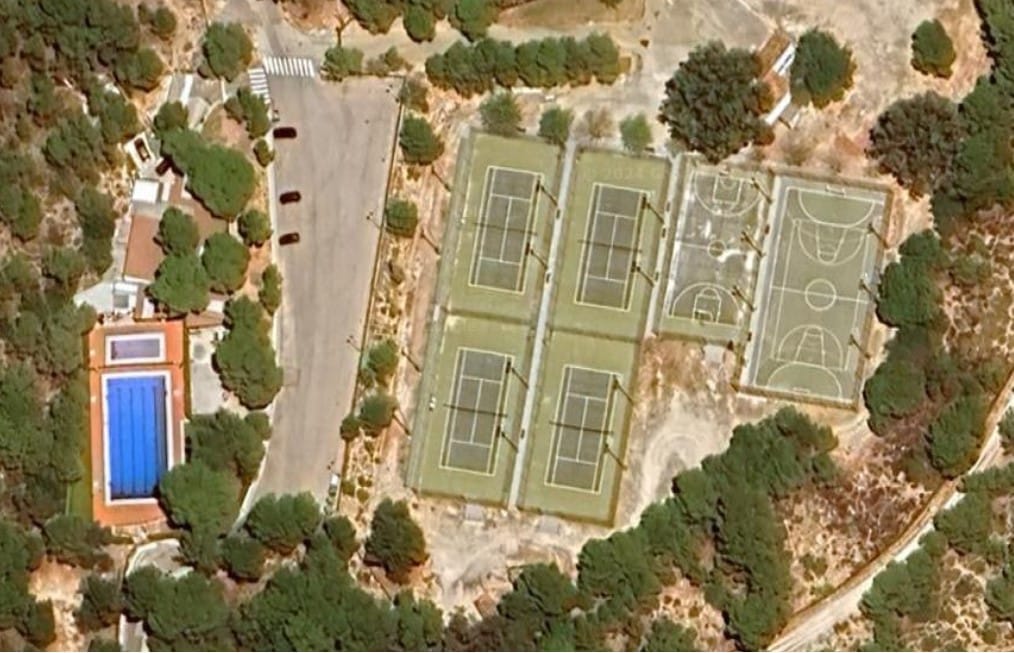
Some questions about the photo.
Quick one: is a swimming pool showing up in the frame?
Yes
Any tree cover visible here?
Yes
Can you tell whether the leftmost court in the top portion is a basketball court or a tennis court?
tennis court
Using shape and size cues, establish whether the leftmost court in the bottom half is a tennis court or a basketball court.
tennis court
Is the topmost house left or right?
right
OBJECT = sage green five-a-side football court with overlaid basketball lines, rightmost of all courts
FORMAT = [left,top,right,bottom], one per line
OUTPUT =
[742,177,891,407]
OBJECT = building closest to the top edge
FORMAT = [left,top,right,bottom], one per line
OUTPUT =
[754,28,799,83]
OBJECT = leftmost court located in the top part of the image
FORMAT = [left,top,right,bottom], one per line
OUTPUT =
[443,137,564,323]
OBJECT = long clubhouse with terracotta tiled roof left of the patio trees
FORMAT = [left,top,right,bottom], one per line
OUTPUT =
[124,213,161,285]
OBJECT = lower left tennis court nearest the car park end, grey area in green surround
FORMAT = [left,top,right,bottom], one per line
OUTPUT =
[415,314,537,503]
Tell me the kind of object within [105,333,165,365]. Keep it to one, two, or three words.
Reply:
swimming pool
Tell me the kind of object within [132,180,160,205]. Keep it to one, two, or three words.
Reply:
shed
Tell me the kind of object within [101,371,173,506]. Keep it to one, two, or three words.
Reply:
swimming pool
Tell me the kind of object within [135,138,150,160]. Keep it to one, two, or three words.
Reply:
car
